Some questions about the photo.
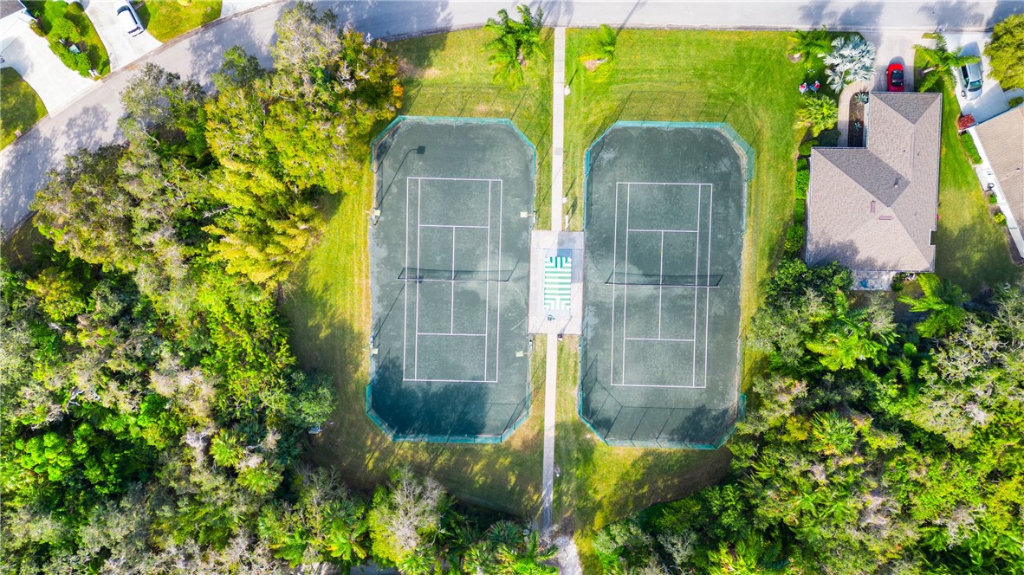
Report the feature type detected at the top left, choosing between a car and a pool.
car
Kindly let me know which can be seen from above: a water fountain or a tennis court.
tennis court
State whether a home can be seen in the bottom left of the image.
No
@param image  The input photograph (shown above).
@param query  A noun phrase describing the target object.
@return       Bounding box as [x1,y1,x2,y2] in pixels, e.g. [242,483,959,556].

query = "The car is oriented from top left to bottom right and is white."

[111,0,144,38]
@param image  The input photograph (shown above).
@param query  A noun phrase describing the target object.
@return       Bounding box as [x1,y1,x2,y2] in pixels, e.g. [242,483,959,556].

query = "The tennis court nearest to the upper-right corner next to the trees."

[578,128,746,442]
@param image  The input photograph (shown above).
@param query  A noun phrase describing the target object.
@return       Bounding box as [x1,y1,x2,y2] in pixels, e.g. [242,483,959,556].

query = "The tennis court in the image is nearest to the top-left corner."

[371,122,534,437]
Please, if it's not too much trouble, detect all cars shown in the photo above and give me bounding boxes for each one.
[886,63,908,91]
[956,52,984,97]
[111,0,144,38]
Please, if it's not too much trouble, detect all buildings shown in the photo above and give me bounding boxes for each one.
[0,0,33,30]
[969,103,1024,250]
[801,90,943,274]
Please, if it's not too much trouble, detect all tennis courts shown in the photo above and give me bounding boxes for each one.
[371,122,534,437]
[578,128,746,442]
